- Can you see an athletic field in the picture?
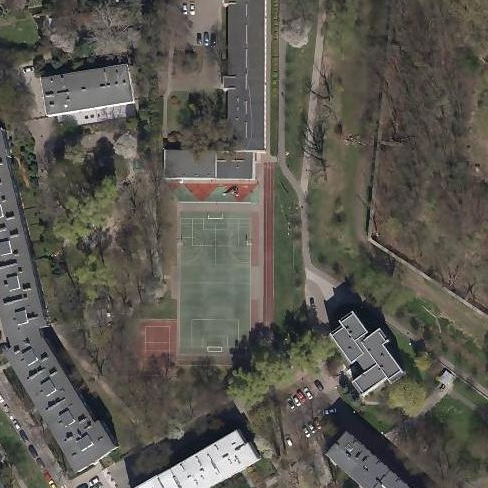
Yes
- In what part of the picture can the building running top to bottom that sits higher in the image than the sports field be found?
top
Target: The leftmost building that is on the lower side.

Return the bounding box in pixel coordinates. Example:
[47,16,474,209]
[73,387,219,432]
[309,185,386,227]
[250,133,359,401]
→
[0,127,115,476]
